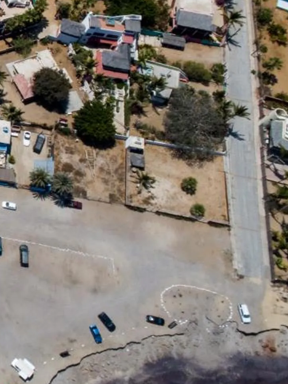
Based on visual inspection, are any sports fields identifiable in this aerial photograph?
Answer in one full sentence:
No, there appears to be no sports field in this shot.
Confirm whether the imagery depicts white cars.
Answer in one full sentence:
Yes, I can see a white car in this picture.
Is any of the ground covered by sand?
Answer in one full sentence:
Yes, the picture does contain sand.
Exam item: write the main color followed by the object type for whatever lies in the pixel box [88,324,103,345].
blue vehicle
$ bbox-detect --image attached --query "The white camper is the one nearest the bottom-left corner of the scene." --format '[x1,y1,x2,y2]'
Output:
[12,357,35,382]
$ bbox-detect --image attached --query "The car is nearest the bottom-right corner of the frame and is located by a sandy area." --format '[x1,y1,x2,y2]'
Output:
[235,303,252,324]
